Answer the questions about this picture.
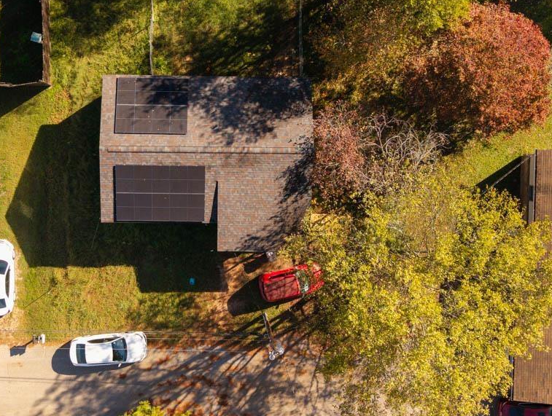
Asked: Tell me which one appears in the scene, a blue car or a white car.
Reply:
white car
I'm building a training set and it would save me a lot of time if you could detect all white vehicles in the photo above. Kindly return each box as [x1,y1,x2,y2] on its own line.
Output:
[69,330,148,366]
[0,238,18,317]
